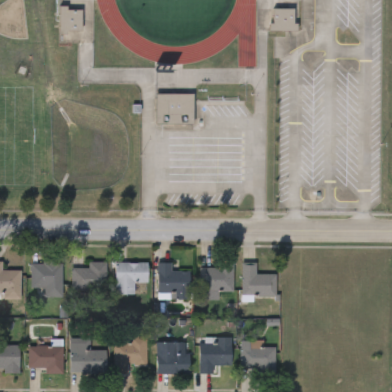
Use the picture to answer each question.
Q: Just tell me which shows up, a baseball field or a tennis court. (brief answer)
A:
baseball field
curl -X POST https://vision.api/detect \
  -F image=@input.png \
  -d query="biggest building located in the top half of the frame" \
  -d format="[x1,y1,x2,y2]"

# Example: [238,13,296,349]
[156,94,196,129]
